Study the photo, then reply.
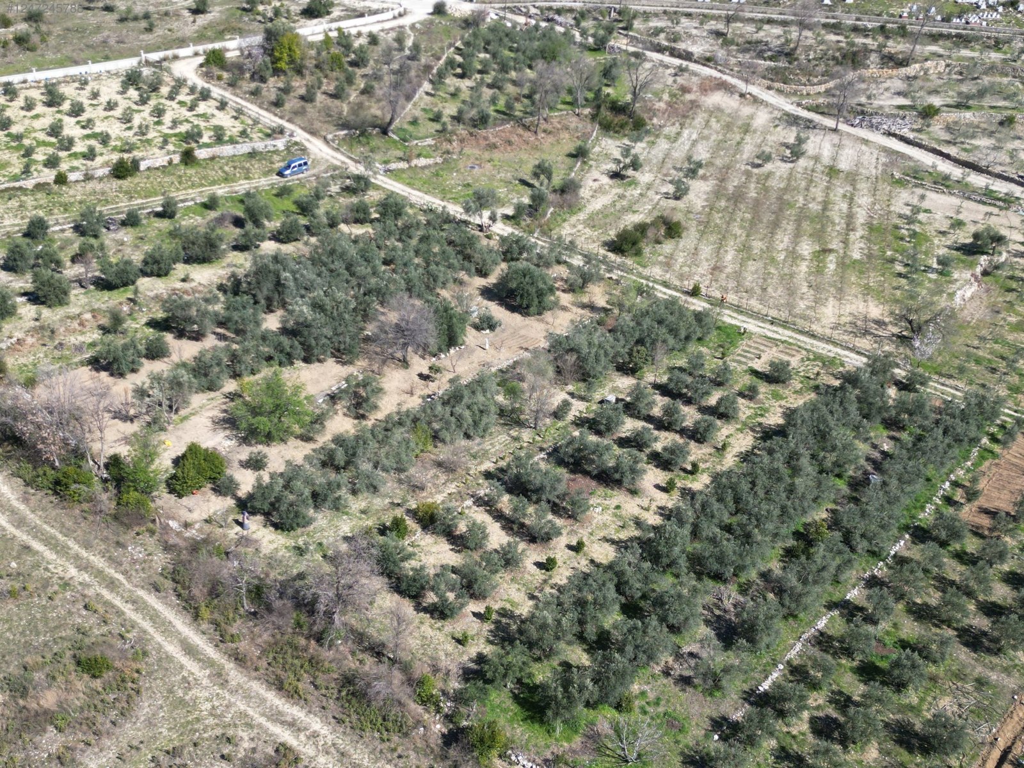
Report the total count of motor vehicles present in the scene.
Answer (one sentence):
I count 1 motor vehicle.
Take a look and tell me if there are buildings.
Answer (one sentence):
No, I can't see a single building in this photo.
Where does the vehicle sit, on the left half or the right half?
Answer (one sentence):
The vehicle is on the left side of the image.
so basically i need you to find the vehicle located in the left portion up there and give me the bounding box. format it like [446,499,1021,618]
[275,155,314,176]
